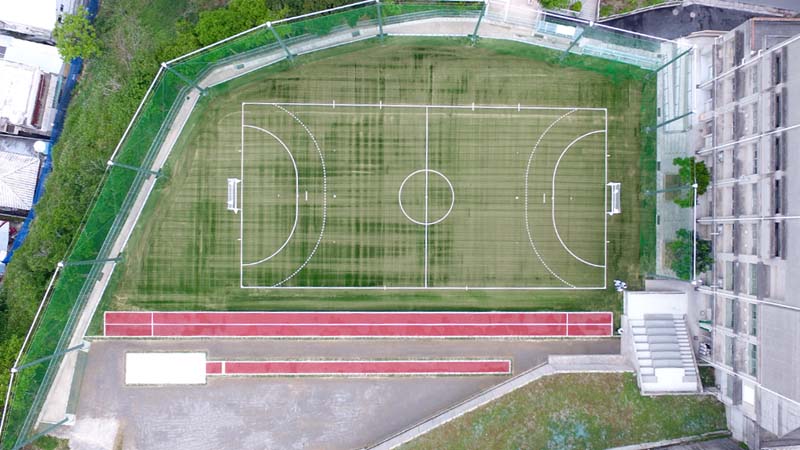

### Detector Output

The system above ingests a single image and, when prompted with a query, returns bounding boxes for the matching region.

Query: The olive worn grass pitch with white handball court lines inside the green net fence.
[86,37,655,340]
